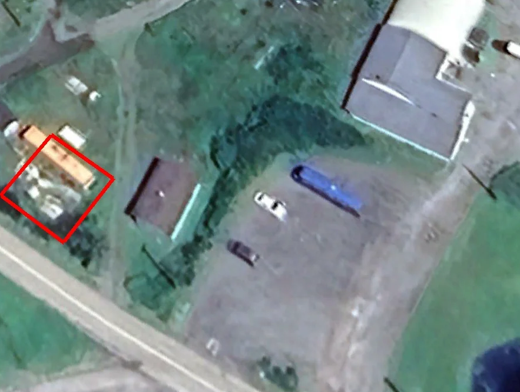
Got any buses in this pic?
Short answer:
Yes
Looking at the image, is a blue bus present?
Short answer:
Yes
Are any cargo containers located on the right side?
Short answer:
No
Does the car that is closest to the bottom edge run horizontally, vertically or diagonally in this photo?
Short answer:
diagonally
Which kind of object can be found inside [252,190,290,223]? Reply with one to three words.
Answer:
car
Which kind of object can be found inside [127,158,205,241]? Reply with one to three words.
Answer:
shed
